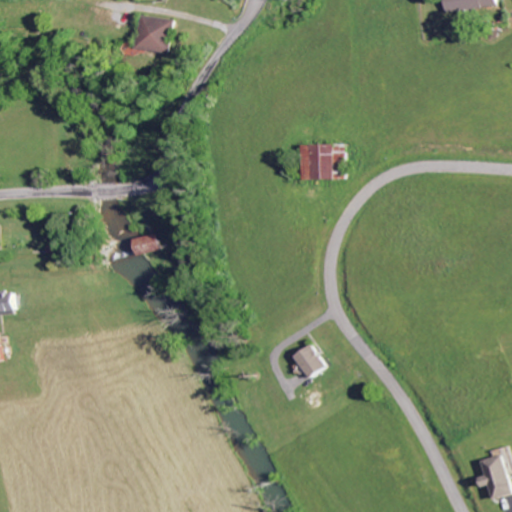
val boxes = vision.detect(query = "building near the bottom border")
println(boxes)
[477,446,512,499]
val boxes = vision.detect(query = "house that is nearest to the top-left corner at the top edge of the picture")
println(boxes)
[134,16,178,52]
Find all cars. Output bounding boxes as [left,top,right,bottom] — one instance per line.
[121,12,128,22]
[301,378,311,386]
[502,498,509,510]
